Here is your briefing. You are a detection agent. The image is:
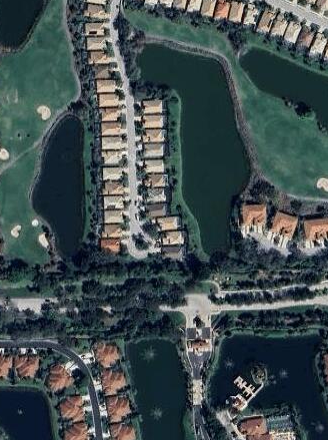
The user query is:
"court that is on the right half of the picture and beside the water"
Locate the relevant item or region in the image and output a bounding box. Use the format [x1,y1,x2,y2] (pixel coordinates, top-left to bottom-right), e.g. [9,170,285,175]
[266,417,294,434]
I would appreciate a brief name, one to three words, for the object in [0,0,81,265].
golf course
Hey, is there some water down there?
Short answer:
Yes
